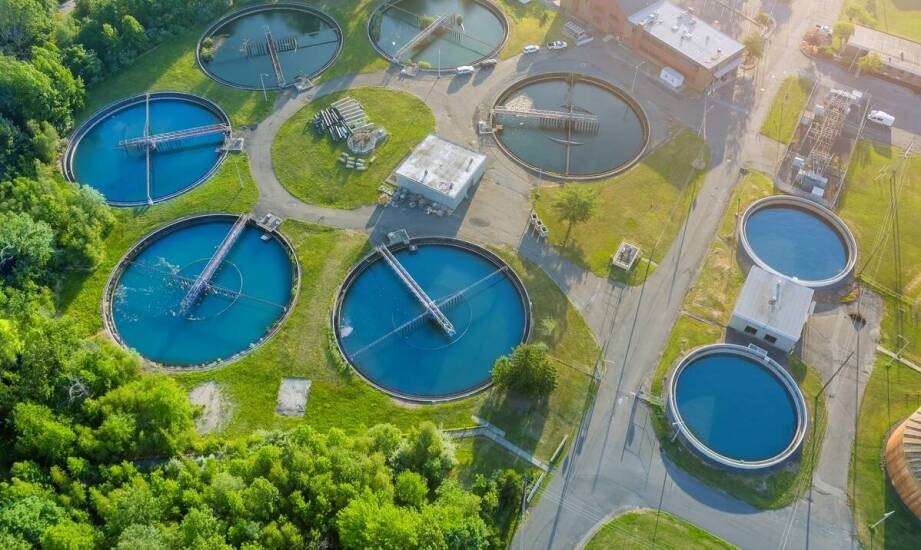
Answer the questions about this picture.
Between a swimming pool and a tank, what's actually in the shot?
tank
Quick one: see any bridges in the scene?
Yes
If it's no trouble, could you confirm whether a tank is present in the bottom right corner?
Yes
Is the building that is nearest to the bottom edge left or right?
right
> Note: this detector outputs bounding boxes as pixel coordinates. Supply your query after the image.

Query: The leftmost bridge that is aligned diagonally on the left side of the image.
[181,208,250,312]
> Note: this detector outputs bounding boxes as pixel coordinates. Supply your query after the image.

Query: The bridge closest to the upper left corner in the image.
[117,120,233,149]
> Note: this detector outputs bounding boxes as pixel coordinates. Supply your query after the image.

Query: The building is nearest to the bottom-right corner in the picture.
[726,265,814,352]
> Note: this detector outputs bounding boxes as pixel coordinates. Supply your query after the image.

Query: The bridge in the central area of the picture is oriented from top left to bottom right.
[374,240,454,335]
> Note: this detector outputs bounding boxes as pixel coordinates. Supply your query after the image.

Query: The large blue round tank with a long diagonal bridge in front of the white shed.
[332,221,532,403]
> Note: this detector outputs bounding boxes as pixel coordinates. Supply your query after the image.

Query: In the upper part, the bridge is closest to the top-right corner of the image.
[490,102,600,126]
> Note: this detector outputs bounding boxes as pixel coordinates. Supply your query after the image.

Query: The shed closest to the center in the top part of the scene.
[395,133,487,212]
